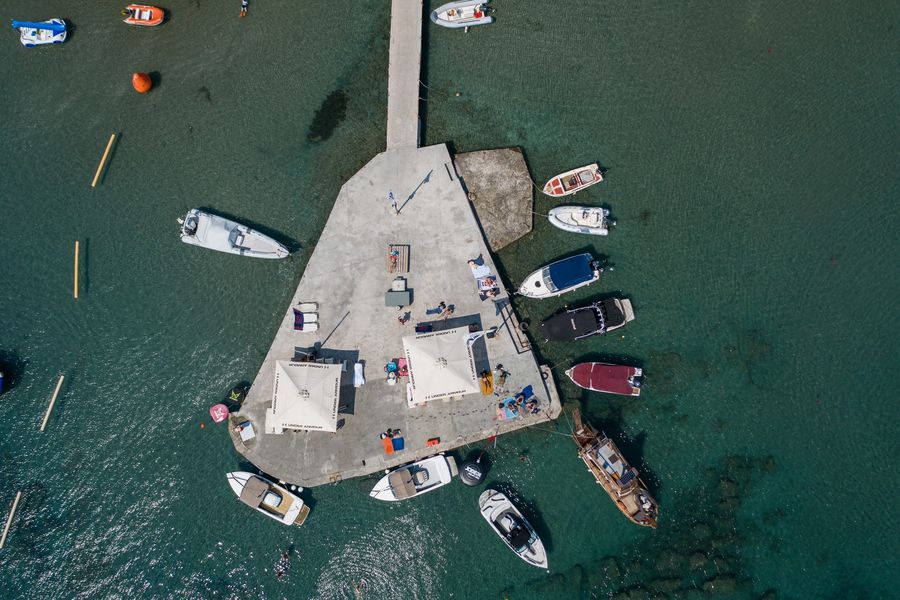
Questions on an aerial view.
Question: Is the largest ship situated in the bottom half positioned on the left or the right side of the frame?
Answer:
right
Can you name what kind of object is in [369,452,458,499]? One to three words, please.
boat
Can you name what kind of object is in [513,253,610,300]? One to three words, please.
boat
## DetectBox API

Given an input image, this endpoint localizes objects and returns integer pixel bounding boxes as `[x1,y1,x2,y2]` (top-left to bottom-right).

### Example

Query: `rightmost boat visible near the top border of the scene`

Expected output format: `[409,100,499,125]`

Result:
[429,0,499,32]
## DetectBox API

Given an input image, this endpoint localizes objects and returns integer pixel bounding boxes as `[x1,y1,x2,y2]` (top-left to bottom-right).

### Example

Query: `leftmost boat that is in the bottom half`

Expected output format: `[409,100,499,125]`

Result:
[225,472,310,524]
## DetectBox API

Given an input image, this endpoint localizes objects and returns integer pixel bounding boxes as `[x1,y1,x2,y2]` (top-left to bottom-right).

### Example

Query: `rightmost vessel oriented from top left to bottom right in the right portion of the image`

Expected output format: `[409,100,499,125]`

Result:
[569,408,659,532]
